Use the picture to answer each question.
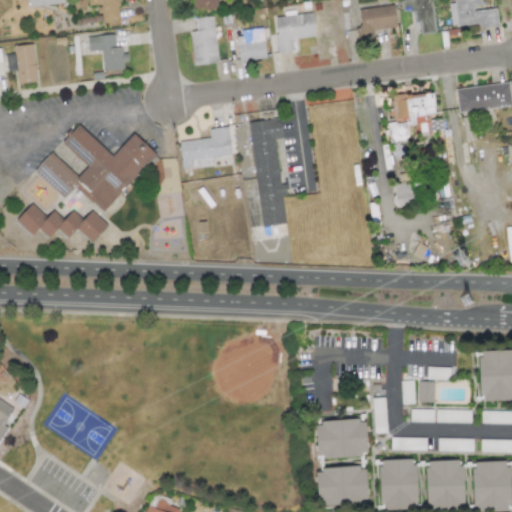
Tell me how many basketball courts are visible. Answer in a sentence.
I count just 1 basketball court.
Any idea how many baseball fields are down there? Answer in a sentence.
I count 1 baseball field.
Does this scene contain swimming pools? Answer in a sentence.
Yes, the photo shows a swimming pool.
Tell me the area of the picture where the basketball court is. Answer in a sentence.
The basketball court is located in the bottom left region of the scene.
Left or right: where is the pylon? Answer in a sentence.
It is on the right.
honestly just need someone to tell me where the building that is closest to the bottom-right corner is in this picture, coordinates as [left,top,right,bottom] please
[474,460,512,510]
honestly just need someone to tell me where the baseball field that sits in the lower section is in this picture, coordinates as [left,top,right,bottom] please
[214,334,278,403]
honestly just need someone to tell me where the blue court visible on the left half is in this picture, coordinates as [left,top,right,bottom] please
[44,394,118,458]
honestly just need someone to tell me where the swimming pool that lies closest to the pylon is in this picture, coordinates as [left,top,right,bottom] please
[435,380,472,404]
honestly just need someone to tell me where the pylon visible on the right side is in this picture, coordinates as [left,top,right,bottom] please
[458,290,477,310]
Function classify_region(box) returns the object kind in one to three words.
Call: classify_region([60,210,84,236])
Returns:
building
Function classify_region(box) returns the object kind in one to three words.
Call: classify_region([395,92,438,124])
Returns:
house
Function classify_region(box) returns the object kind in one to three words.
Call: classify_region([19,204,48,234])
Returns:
building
